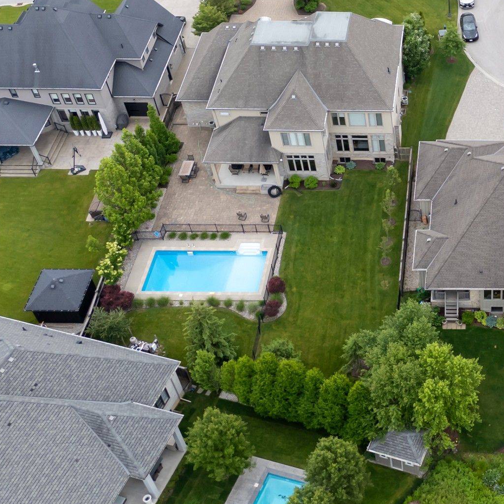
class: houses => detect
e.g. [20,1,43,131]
[0,0,188,134]
[175,12,403,189]
[412,139,504,315]
[0,316,186,504]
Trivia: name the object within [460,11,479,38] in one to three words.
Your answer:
car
